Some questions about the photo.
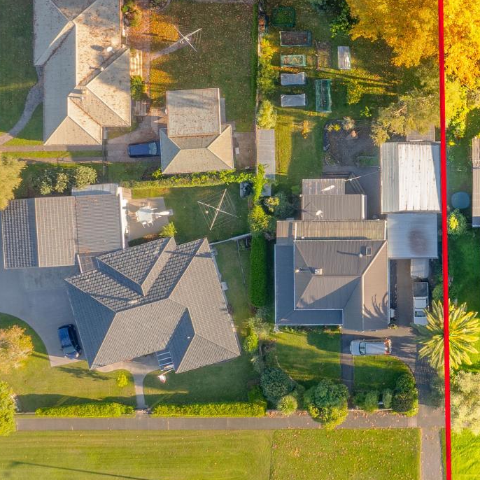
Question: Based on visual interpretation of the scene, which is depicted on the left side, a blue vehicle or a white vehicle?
blue vehicle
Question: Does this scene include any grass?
Yes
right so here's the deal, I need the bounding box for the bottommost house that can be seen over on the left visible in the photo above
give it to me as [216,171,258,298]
[63,236,242,374]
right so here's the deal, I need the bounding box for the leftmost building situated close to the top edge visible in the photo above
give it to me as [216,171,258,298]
[33,0,136,145]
